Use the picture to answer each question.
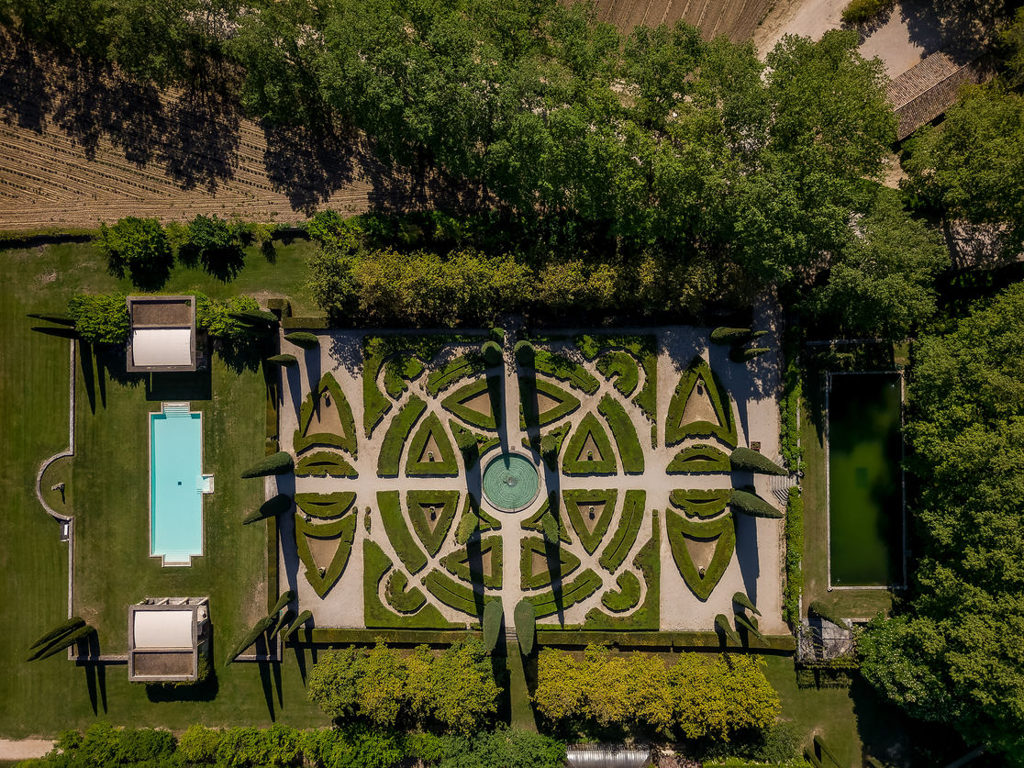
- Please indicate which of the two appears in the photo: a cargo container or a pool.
pool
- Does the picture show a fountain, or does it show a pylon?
fountain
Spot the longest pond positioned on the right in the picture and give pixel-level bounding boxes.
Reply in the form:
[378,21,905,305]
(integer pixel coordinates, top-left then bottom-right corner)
[826,371,907,590]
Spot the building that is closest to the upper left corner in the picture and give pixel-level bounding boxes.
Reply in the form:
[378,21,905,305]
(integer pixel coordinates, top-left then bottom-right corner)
[127,296,206,372]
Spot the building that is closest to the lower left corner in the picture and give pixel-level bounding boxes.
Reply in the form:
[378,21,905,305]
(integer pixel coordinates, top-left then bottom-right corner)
[128,598,208,681]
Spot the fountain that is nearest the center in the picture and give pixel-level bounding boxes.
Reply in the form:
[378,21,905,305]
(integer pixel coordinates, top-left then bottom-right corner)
[480,450,542,512]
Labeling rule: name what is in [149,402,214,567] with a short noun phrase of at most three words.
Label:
swimming pool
